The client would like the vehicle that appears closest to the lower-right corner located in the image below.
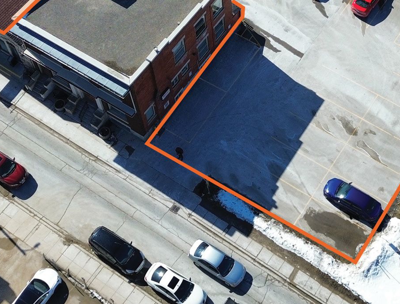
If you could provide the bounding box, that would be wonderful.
[318,184,386,231]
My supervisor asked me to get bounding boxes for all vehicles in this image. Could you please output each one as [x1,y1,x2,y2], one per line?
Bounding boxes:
[0,154,34,193]
[143,265,210,304]
[353,0,380,18]
[318,184,386,231]
[7,270,65,304]
[185,241,250,289]
[86,229,148,276]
